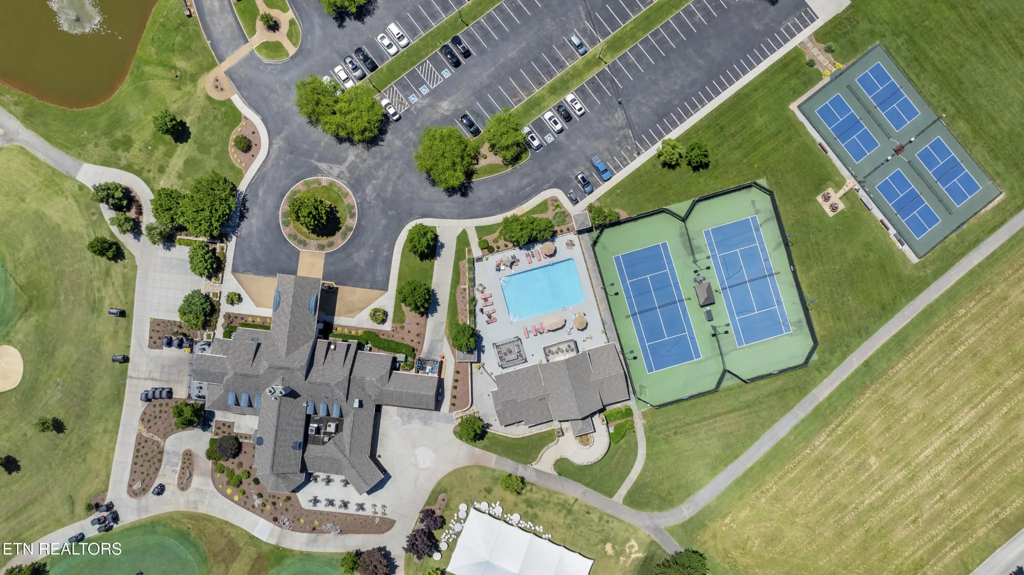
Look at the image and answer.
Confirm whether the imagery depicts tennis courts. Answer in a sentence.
Yes, the image includes a tennis court.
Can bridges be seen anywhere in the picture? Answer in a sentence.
No, this view has no bridge in it.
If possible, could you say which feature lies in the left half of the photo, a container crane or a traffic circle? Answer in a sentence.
What appears in the left half of the photo is a traffic circle.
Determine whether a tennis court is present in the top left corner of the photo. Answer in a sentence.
No, no tennis court appears in the top left corner of the photo.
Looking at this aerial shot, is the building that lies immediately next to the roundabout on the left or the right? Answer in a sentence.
It is on the left.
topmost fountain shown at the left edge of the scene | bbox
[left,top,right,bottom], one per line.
[47,0,124,52]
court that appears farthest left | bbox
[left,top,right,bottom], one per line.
[613,242,702,374]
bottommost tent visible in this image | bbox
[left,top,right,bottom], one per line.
[435,493,598,575]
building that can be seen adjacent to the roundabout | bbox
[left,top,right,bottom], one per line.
[191,274,440,495]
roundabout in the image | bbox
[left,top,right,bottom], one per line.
[279,176,357,253]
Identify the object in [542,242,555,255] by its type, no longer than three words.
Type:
umbrella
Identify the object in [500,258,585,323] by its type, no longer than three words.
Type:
swimming pool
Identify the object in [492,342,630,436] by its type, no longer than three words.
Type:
building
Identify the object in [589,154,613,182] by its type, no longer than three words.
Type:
truck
